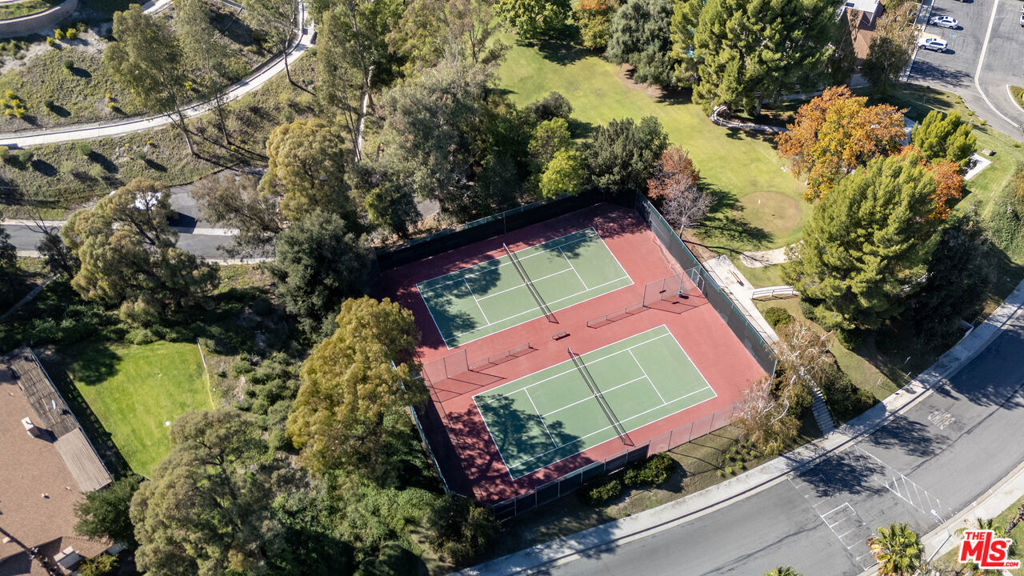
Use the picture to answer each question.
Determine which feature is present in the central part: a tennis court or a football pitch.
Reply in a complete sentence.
The feature located in the central part is a tennis court.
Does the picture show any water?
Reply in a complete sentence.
No, there's no water in this view.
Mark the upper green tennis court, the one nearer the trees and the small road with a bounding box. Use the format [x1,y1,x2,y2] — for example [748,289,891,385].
[417,227,634,350]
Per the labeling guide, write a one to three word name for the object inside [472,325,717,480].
tennis court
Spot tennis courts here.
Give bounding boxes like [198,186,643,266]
[417,227,634,350]
[472,325,717,480]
